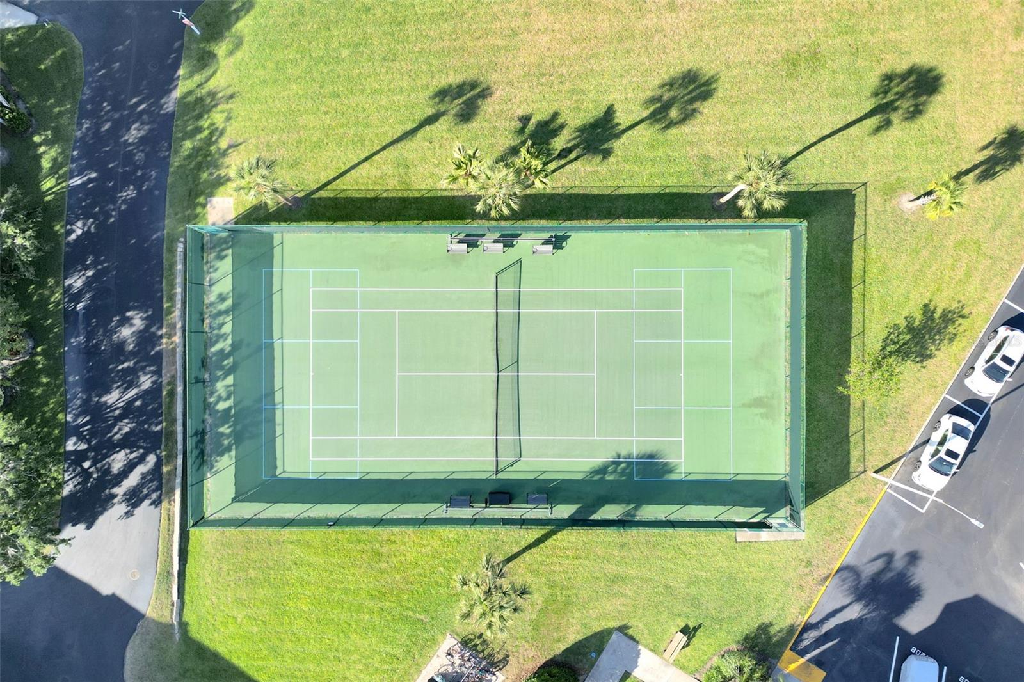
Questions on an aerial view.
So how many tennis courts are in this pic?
one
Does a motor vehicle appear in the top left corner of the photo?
No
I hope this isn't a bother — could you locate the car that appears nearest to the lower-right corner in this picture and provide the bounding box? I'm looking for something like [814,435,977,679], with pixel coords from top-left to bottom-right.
[904,655,938,682]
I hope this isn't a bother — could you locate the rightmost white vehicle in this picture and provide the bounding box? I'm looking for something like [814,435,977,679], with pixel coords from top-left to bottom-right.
[966,322,1024,397]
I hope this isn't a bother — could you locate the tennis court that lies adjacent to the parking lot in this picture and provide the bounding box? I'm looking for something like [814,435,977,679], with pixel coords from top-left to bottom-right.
[206,232,791,517]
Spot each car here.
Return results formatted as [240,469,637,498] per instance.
[904,655,938,682]
[966,322,1024,397]
[916,413,975,490]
